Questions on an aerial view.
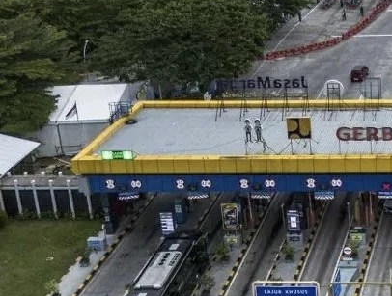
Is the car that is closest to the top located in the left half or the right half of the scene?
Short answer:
right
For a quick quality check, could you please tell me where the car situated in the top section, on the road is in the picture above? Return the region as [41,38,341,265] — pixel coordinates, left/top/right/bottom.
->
[350,60,375,81]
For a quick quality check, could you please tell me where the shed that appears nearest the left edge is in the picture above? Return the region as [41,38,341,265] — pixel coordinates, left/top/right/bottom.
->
[0,131,35,186]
